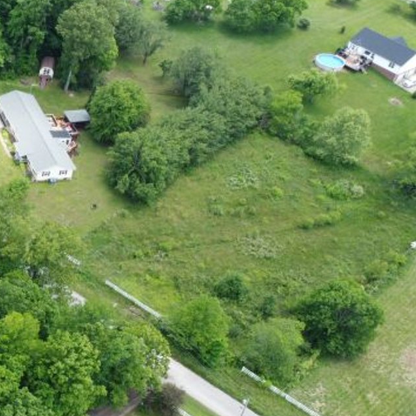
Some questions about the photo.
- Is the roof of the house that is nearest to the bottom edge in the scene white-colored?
Yes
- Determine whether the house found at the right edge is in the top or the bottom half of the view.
top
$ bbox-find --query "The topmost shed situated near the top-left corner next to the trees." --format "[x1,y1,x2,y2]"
[37,54,53,83]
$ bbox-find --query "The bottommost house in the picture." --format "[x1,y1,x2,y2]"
[0,86,95,180]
